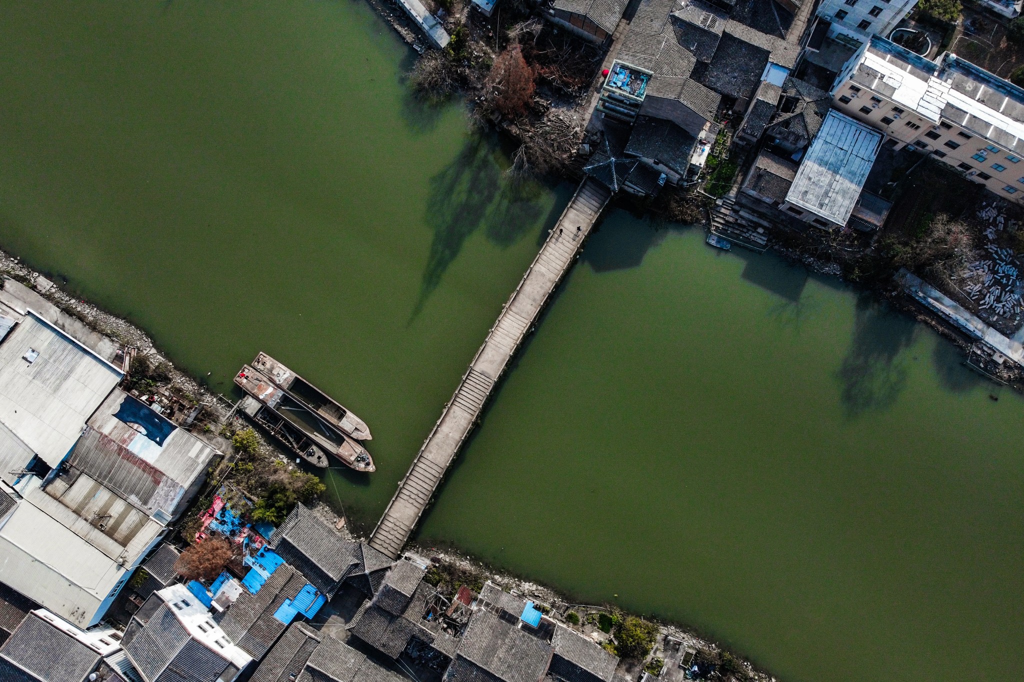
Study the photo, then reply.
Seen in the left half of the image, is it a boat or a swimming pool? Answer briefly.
boat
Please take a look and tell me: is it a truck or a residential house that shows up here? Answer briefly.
residential house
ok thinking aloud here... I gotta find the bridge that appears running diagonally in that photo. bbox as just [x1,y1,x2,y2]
[365,172,616,561]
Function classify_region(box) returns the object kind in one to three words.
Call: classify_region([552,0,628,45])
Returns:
building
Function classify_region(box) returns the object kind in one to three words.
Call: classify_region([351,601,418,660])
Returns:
house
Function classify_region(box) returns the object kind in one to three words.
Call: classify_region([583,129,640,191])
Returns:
building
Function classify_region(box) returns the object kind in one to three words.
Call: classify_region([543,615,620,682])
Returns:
house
